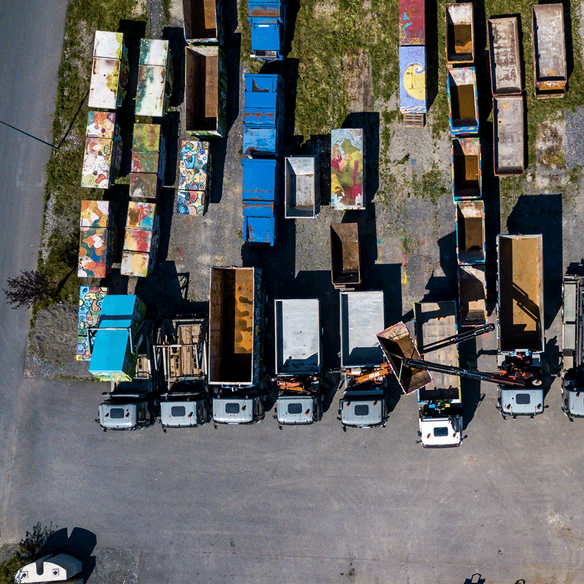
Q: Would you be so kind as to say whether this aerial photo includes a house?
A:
No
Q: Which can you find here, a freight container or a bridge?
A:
freight container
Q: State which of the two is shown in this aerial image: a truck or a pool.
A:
truck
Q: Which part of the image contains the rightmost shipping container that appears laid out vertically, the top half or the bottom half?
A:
top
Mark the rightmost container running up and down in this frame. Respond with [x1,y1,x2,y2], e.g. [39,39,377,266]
[531,3,567,82]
